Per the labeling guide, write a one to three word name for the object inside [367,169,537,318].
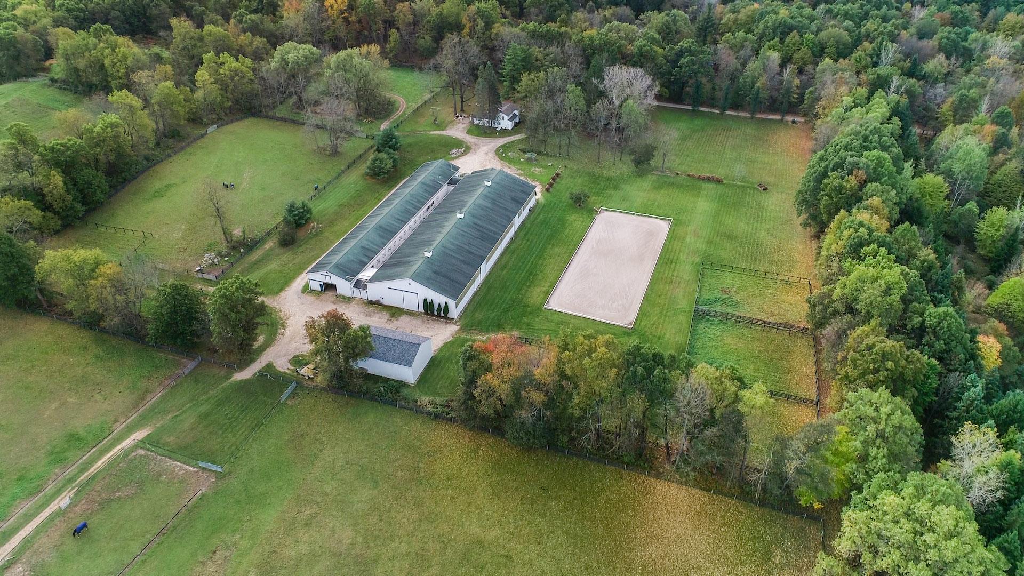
barn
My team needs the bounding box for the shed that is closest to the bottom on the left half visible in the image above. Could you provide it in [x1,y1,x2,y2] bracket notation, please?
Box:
[353,324,433,384]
